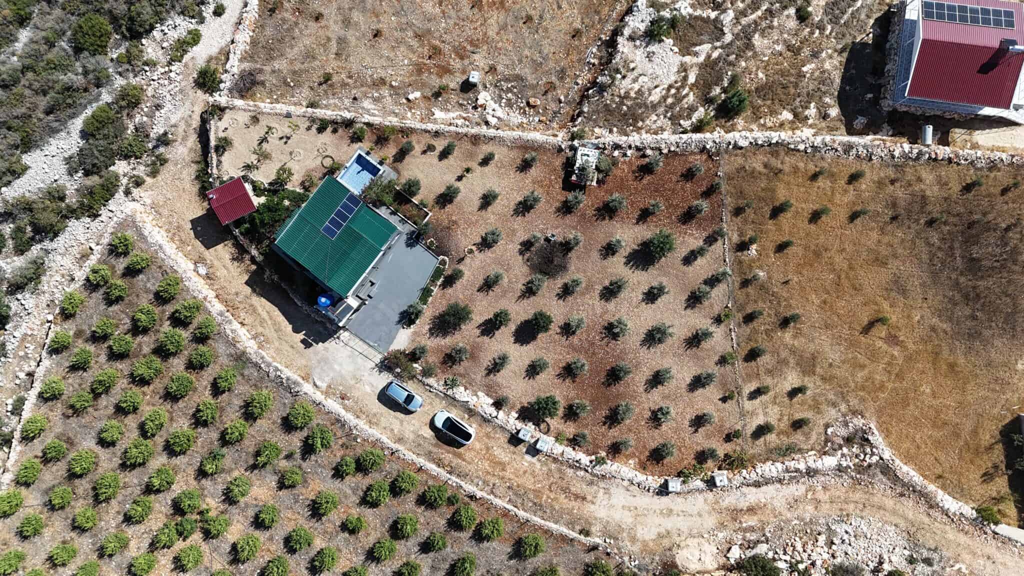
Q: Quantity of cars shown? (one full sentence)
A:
Altogether the scene contains 2 cars.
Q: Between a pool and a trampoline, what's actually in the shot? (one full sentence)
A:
There is a pool in the scene.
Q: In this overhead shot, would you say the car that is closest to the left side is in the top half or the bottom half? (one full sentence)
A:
The car that is closest to the left side sits in the bottom half of the picture.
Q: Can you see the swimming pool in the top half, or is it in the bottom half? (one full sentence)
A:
You can find the swimming pool in the top half.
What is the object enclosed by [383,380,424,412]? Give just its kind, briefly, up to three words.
car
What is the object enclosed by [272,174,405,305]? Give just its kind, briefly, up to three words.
building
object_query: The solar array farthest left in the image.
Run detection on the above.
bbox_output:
[322,192,362,239]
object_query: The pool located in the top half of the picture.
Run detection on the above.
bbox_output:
[336,150,384,197]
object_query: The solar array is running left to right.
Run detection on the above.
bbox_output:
[923,1,1015,28]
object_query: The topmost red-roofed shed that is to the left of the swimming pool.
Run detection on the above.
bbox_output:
[206,177,259,225]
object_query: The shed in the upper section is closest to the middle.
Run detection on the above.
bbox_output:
[569,142,605,188]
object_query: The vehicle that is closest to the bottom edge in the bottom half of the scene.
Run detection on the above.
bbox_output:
[433,411,475,447]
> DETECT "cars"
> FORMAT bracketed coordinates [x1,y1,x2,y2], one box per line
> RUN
[383,380,424,412]
[433,411,475,447]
